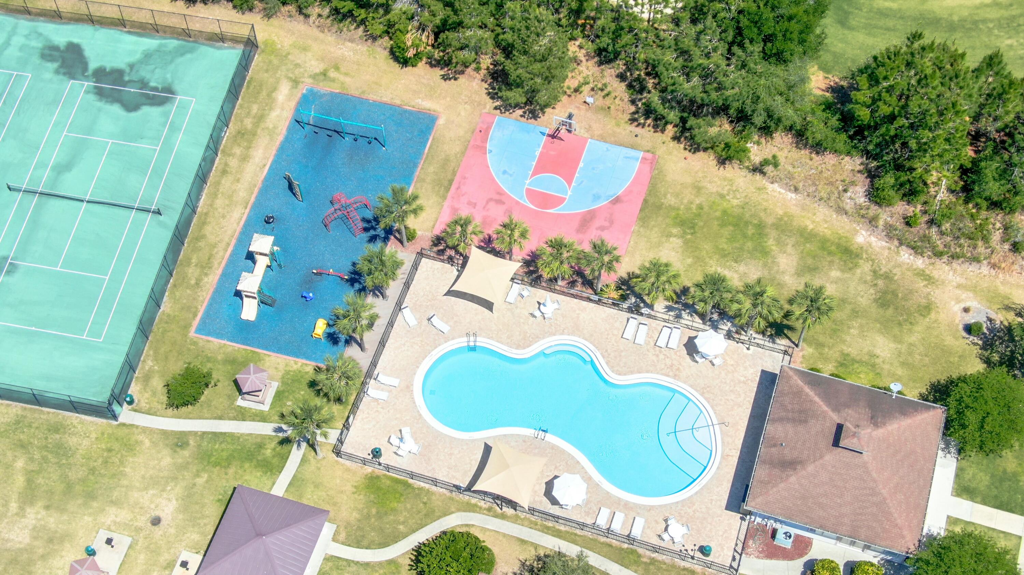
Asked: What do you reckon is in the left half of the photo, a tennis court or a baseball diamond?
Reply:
tennis court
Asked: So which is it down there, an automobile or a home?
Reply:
home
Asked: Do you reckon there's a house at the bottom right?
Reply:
Yes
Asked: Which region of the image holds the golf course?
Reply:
top right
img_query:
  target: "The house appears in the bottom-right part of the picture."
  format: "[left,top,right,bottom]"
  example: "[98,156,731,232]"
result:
[742,363,948,563]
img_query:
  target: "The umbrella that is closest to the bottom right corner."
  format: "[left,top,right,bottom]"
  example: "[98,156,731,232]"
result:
[692,324,730,357]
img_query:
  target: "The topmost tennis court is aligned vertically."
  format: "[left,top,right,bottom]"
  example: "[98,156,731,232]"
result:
[0,8,77,189]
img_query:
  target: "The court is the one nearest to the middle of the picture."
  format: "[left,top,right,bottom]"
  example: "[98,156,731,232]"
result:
[433,112,658,281]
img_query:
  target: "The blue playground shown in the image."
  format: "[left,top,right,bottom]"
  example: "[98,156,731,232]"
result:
[190,82,441,373]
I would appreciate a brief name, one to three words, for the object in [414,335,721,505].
swimming pool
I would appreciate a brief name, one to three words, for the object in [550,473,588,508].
umbrella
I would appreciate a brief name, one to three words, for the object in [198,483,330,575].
building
